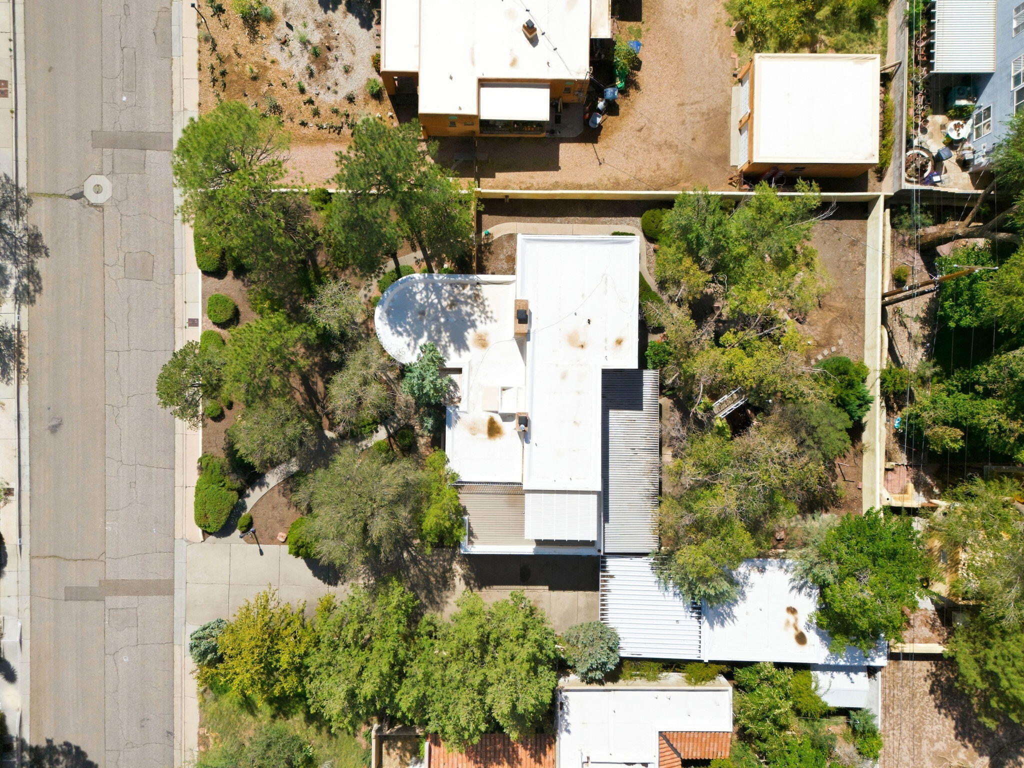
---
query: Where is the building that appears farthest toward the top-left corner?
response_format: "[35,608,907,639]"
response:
[381,0,611,141]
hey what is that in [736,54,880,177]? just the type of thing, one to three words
building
